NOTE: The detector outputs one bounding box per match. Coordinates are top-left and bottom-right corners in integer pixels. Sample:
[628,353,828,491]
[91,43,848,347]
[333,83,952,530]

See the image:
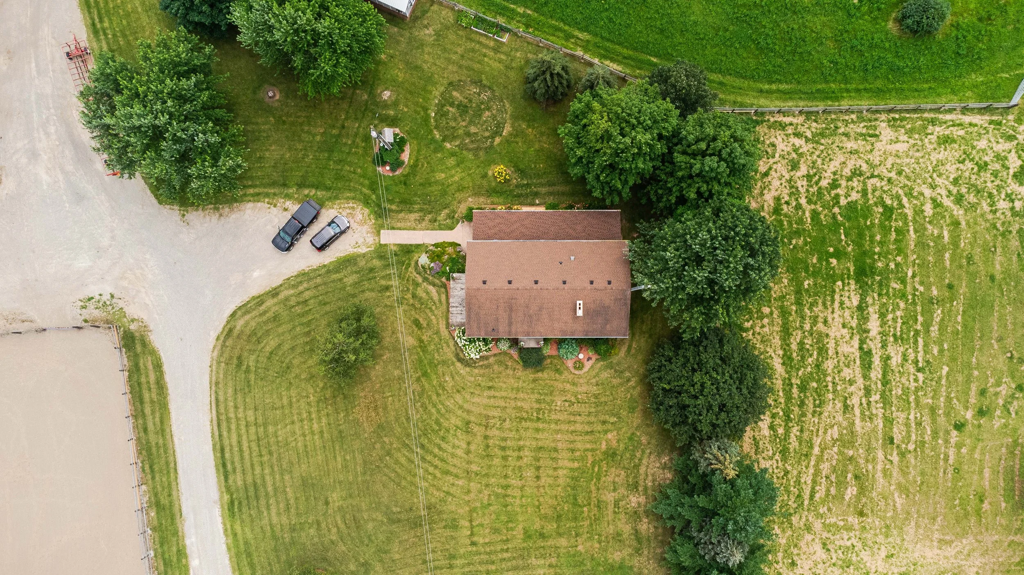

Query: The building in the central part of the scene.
[465,210,632,338]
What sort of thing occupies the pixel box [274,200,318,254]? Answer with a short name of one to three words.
truck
